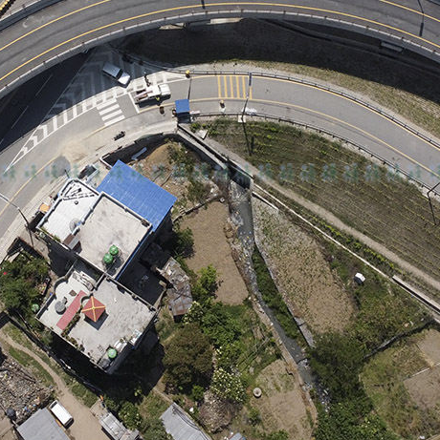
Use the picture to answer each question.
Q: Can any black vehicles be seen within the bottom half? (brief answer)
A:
No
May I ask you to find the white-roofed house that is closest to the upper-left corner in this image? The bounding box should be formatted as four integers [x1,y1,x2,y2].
[36,179,99,255]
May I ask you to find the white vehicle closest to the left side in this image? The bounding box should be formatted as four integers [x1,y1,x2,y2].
[48,397,76,430]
